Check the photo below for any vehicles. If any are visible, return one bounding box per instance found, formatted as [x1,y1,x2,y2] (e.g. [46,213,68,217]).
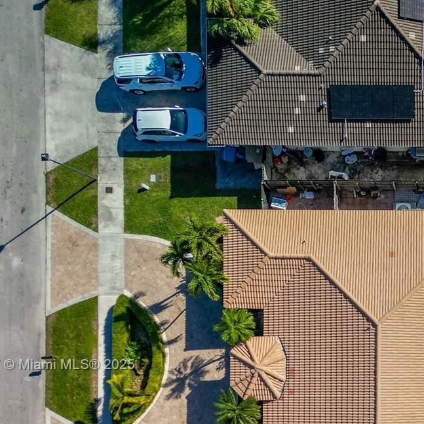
[116,53,206,98]
[131,104,206,146]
